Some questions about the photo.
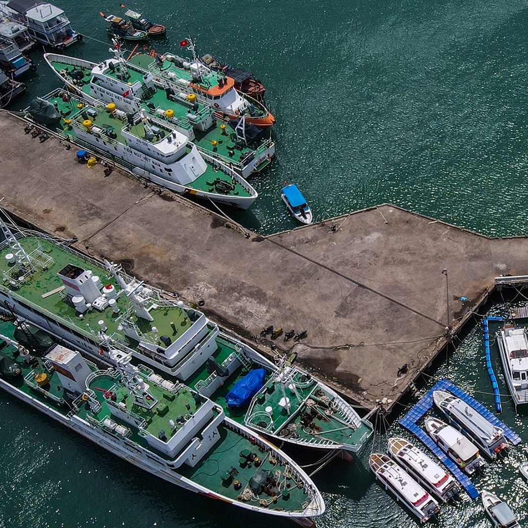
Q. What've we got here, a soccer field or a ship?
ship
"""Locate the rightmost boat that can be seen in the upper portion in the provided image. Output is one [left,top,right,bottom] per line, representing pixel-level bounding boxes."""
[281,184,312,225]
